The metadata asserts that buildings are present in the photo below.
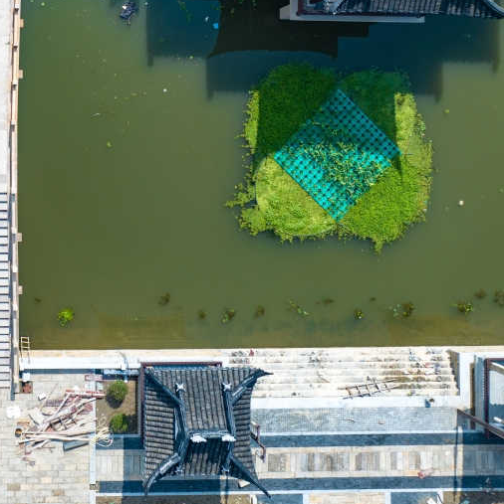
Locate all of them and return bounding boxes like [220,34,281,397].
[467,357,504,442]
[287,0,504,27]
[137,355,274,501]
